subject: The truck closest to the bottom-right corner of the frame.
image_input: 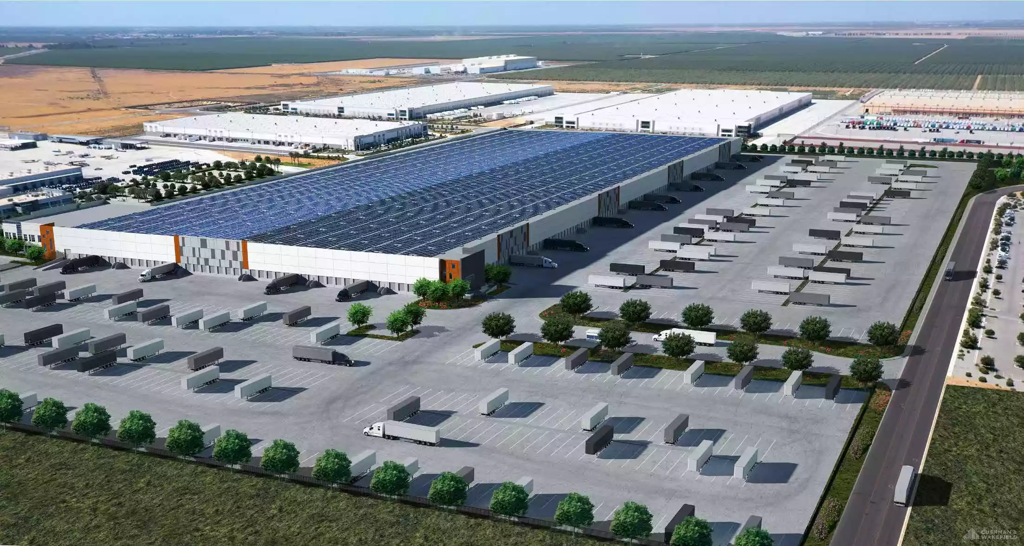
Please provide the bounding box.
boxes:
[893,460,917,505]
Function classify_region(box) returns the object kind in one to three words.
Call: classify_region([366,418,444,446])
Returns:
truck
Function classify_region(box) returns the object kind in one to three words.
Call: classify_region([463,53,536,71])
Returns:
building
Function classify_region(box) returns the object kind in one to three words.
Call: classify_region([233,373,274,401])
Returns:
trailer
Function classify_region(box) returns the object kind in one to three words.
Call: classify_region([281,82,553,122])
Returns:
building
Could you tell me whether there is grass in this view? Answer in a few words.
Yes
